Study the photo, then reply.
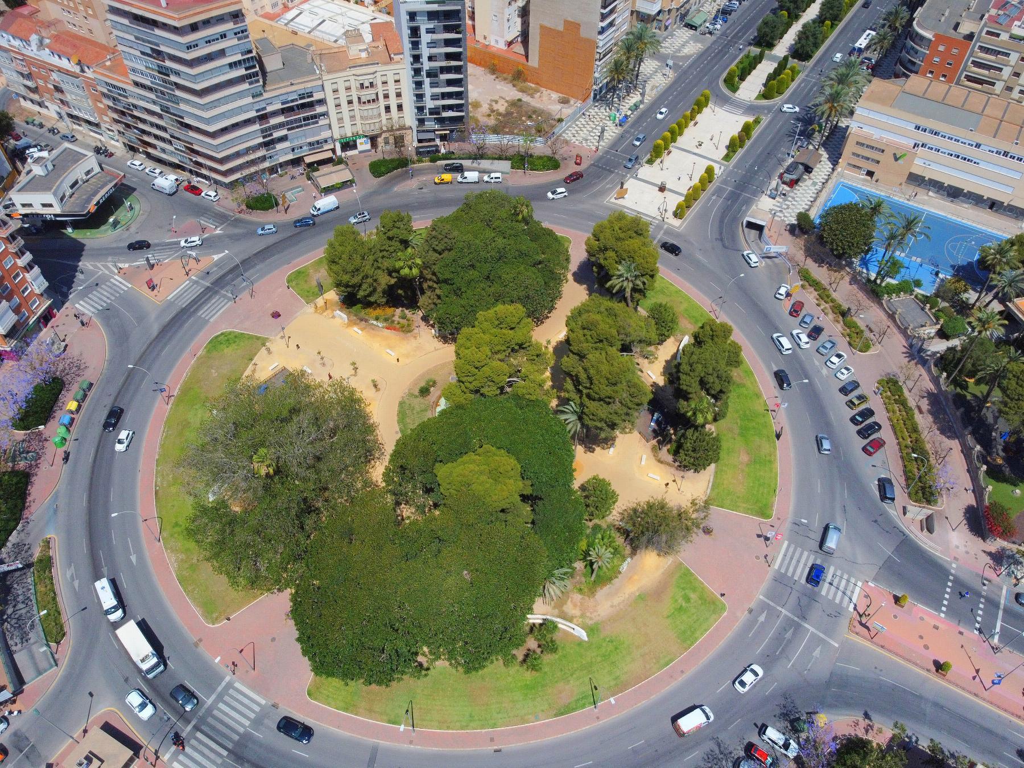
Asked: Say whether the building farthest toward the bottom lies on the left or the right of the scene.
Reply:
left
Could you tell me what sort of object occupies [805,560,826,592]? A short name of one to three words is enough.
car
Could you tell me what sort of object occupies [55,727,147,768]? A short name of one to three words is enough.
building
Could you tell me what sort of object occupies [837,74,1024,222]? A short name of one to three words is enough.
building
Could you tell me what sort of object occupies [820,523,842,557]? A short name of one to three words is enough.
vehicle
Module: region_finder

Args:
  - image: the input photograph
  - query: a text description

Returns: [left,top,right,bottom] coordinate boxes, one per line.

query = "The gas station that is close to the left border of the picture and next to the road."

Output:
[5,143,128,232]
